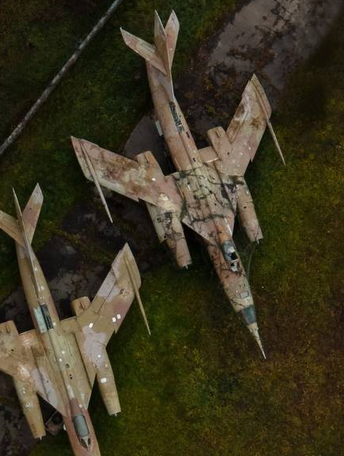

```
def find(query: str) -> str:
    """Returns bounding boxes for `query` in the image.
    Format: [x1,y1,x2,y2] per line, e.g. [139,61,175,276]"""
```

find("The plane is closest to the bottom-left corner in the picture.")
[0,181,152,456]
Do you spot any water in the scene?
No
